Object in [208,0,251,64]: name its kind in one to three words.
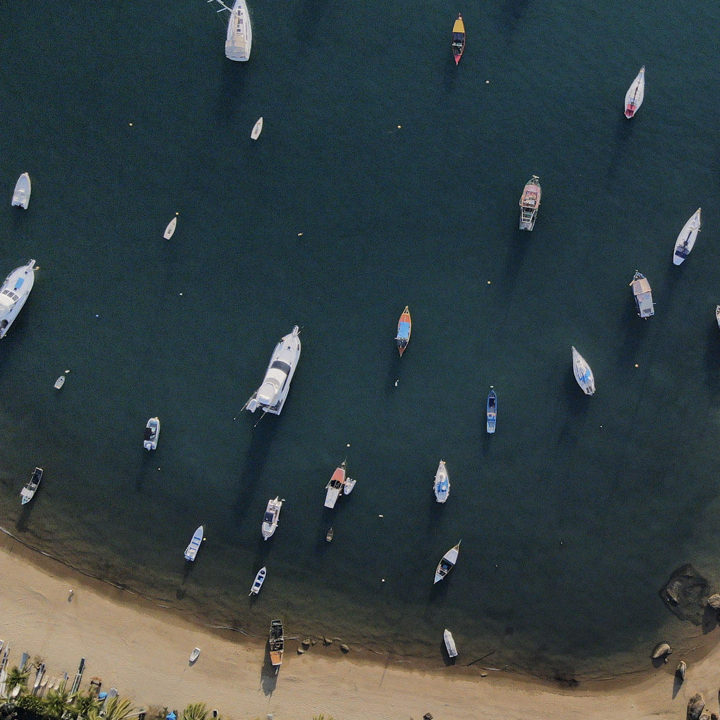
boat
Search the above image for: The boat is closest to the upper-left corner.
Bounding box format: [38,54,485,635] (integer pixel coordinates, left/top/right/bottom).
[13,173,35,211]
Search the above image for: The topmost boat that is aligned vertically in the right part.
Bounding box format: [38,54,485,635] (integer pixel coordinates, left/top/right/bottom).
[451,13,465,67]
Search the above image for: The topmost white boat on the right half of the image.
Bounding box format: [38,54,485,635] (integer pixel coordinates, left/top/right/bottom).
[625,65,646,121]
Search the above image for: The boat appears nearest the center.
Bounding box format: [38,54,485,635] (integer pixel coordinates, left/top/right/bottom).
[393,306,412,356]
